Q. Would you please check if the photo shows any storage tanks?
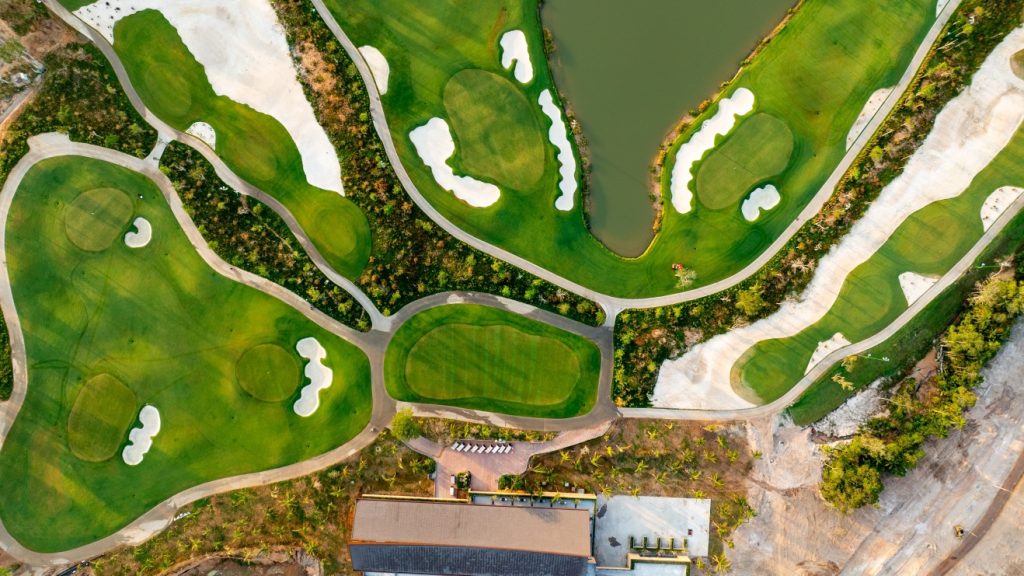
No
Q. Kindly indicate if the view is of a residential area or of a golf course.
golf course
